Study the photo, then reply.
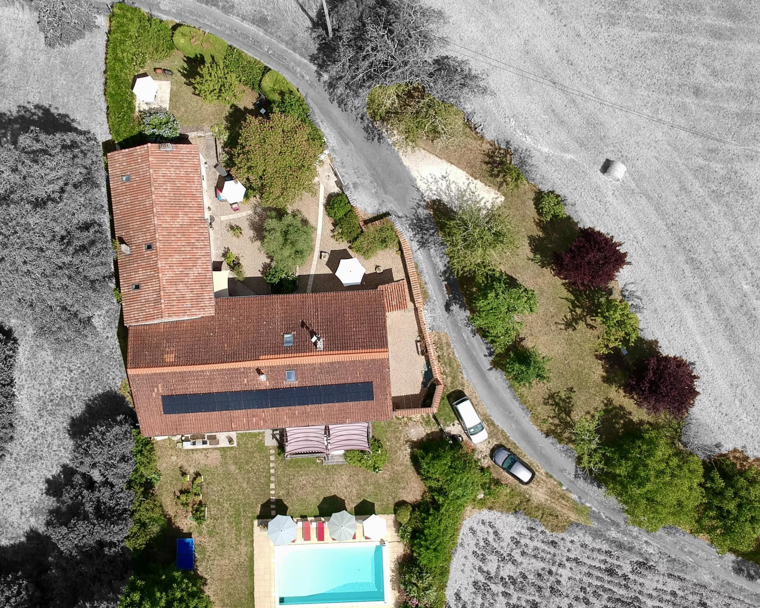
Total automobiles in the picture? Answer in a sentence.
The number of automobiles here is 2.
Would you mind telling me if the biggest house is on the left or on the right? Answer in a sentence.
The biggest house is on the left side of the image.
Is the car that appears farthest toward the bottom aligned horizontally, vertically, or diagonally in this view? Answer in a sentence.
Seen from above, the car that appears farthest toward the bottom lies diagonally.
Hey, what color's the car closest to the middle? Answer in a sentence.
From above, the car closest to the middle appears white.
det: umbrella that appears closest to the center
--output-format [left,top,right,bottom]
[335,257,367,287]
